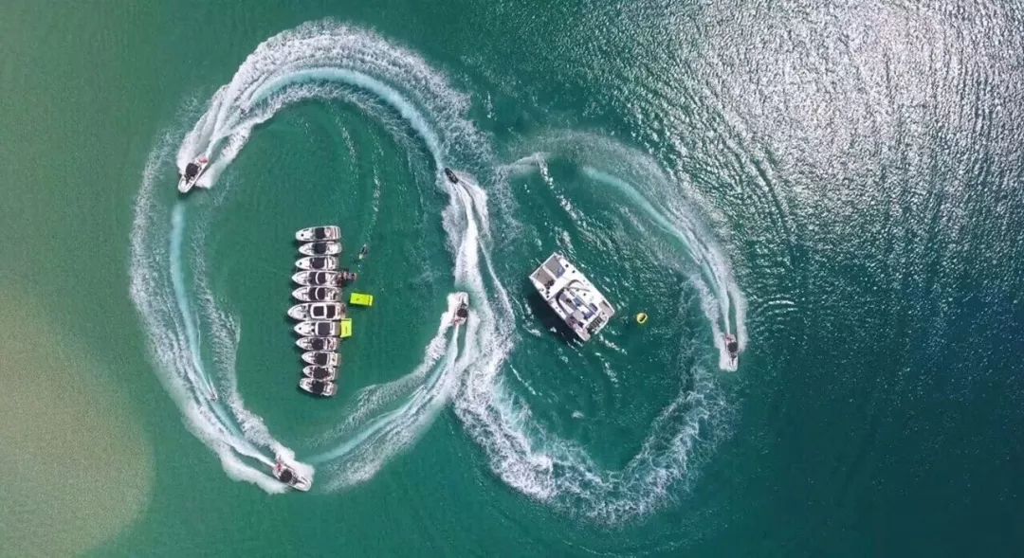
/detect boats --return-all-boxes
[293,256,339,271]
[301,366,338,380]
[293,225,341,241]
[290,270,339,286]
[725,334,743,371]
[293,337,338,353]
[530,252,616,340]
[285,302,346,321]
[444,168,460,185]
[290,286,342,302]
[296,241,342,256]
[175,153,210,191]
[297,378,338,397]
[292,321,341,338]
[299,352,340,368]
[272,464,310,493]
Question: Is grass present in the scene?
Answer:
No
